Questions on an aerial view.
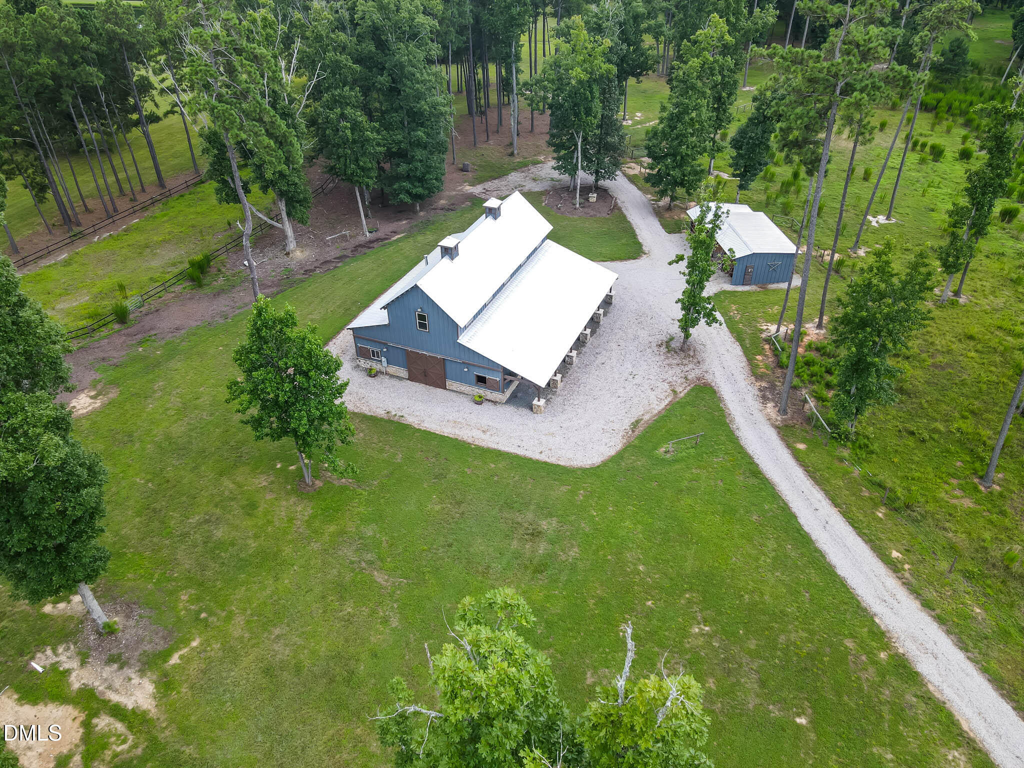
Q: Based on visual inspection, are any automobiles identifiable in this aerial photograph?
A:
No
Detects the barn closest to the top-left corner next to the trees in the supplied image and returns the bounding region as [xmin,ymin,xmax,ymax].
[344,191,618,411]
